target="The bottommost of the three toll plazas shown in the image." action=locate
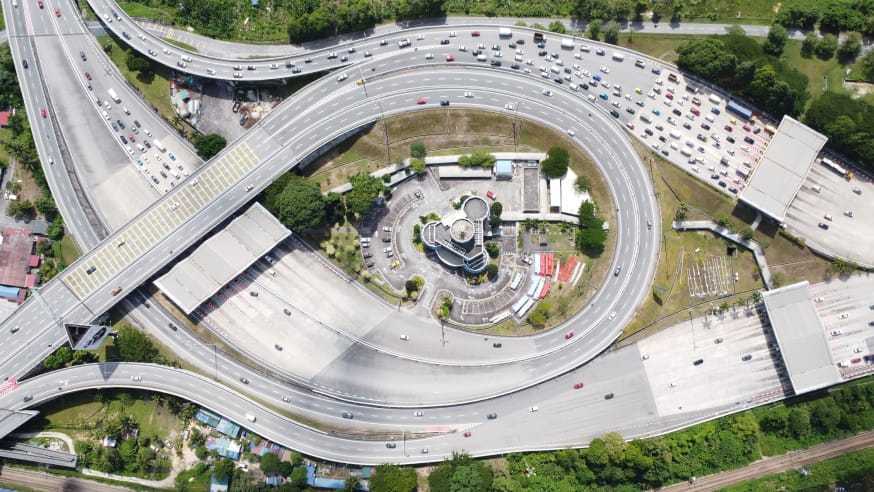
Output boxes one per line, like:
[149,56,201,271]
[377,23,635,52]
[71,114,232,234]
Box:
[762,281,850,395]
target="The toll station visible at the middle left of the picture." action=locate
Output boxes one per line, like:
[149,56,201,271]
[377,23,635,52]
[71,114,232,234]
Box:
[152,201,271,310]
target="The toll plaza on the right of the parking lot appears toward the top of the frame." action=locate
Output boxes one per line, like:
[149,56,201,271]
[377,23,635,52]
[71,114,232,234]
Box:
[727,114,830,225]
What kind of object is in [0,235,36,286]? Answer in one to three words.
building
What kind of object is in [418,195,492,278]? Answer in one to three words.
building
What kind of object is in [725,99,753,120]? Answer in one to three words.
vehicle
